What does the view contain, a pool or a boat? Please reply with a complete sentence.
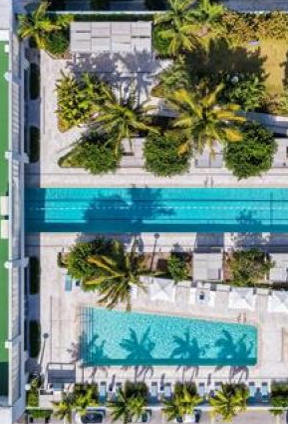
I can see a pool in this picture.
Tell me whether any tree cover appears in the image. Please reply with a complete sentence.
Yes, there is tree cover in the image.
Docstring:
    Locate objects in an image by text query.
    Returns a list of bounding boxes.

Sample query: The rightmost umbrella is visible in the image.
[269,290,288,314]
